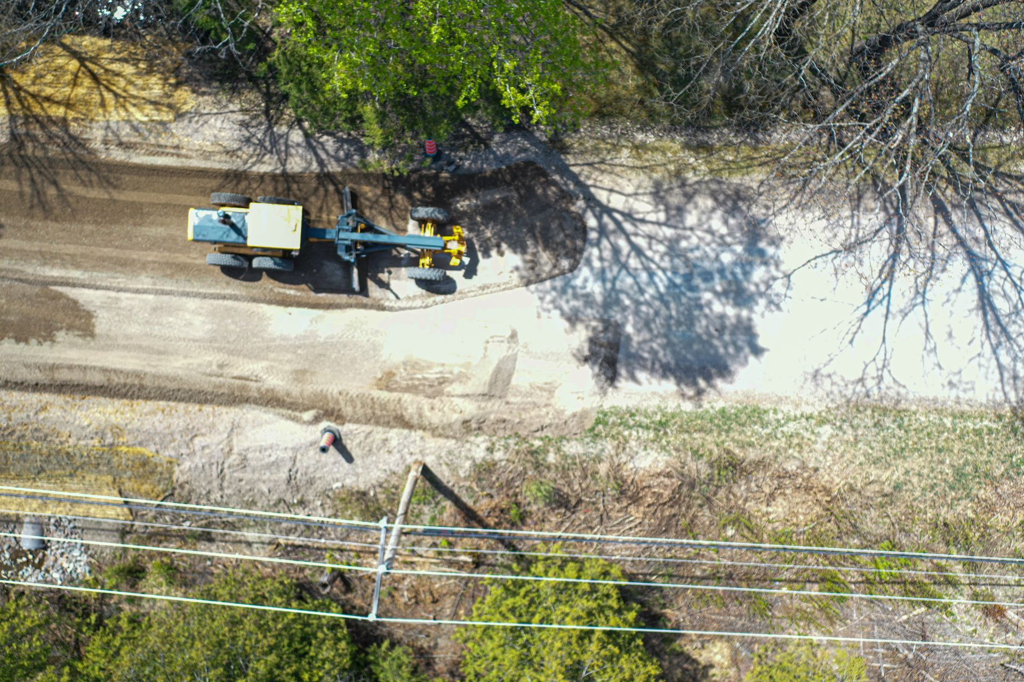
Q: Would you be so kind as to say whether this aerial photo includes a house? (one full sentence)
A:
No, I can't see a single house in this photo.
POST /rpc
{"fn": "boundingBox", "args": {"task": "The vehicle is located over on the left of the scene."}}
[188,186,472,292]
